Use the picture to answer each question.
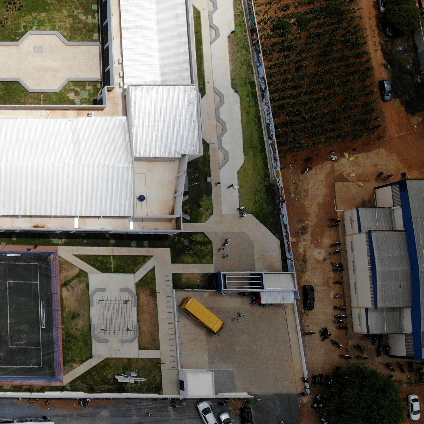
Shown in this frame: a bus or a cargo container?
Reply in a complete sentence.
The one in the frame is a bus.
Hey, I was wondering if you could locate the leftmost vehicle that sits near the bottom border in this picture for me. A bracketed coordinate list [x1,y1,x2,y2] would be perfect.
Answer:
[195,398,218,424]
